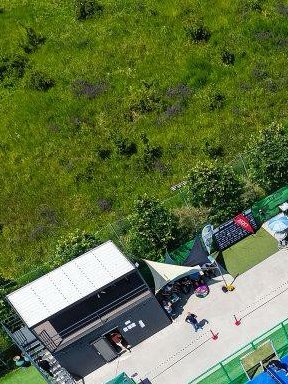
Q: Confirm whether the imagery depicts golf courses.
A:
No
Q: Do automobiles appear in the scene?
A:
No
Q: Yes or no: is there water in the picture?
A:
No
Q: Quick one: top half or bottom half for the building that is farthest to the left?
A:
bottom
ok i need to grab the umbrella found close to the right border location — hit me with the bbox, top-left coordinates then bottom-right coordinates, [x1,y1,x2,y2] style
[267,217,288,248]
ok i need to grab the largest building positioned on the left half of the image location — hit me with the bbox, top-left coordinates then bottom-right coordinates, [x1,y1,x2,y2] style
[7,239,169,379]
